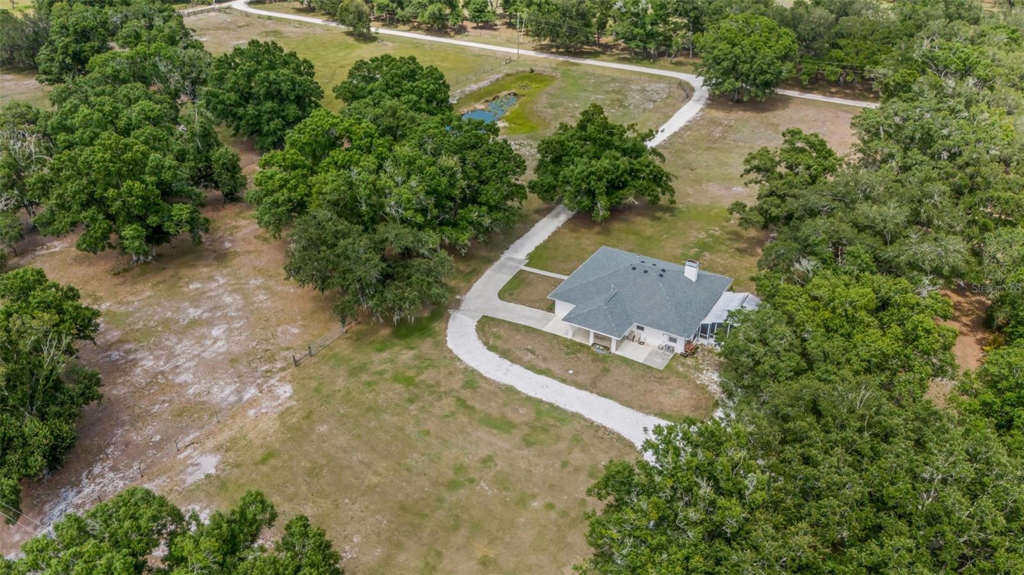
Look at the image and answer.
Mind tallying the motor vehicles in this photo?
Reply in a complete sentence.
The count of motor vehicles is 0.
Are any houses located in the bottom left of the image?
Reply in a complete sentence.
No, the scene shows no house in the bottom left of the image.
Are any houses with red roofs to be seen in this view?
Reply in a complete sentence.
No, this view has no house with a red roof in it.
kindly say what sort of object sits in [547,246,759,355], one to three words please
house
